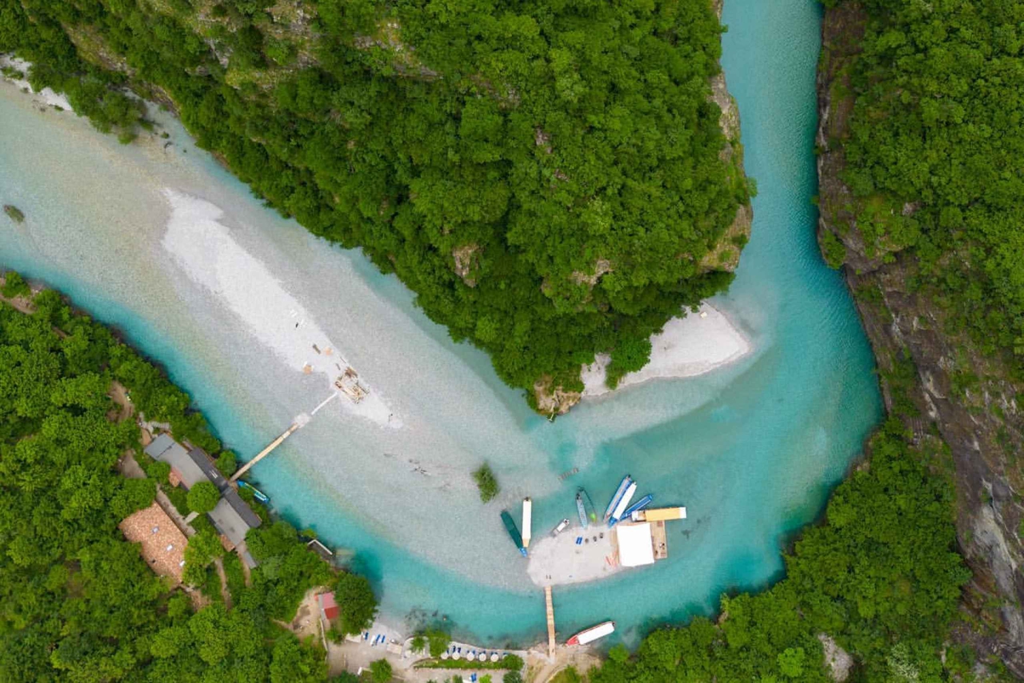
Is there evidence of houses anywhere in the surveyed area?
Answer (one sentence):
Yes, there's a house down there.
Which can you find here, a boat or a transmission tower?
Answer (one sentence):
The image shows a boat.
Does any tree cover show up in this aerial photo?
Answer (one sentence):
Yes, there is tree cover in the image.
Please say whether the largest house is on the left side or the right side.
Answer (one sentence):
The largest house is on the left side of the image.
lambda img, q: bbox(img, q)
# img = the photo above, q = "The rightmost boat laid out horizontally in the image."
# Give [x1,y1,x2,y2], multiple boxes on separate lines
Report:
[631,508,687,523]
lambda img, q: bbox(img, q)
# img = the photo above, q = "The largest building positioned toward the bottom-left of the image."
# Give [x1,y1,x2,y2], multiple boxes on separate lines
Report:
[119,501,192,582]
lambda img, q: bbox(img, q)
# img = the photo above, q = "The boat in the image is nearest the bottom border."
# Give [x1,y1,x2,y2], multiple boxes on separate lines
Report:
[567,623,616,646]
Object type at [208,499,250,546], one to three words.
building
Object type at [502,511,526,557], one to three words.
boat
